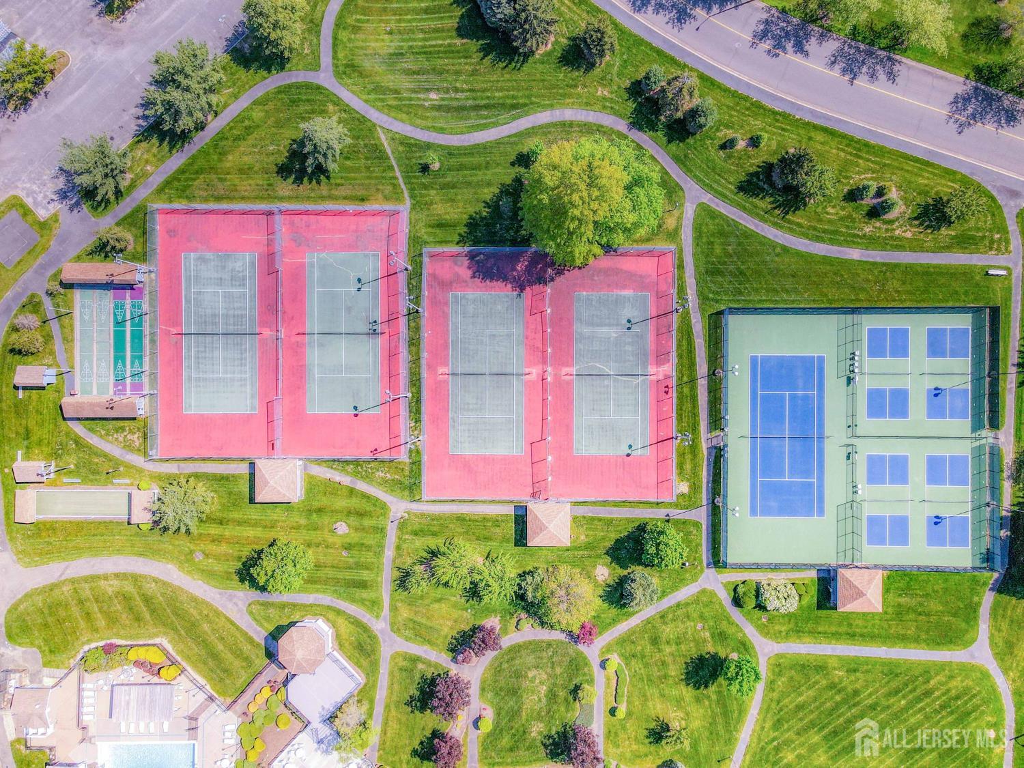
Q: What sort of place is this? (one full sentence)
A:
The area seen from above is a sports ground.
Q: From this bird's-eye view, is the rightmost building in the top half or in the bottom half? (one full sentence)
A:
The bottom half of the photo is where the rightmost building is.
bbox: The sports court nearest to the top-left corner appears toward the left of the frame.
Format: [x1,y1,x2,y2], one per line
[0,209,40,269]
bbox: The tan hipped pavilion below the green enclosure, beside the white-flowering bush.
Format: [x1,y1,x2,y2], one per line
[830,569,883,612]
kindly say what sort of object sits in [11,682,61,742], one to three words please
building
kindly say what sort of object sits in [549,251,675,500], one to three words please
tennis court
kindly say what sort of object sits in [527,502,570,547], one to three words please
building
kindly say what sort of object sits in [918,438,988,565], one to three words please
sports court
